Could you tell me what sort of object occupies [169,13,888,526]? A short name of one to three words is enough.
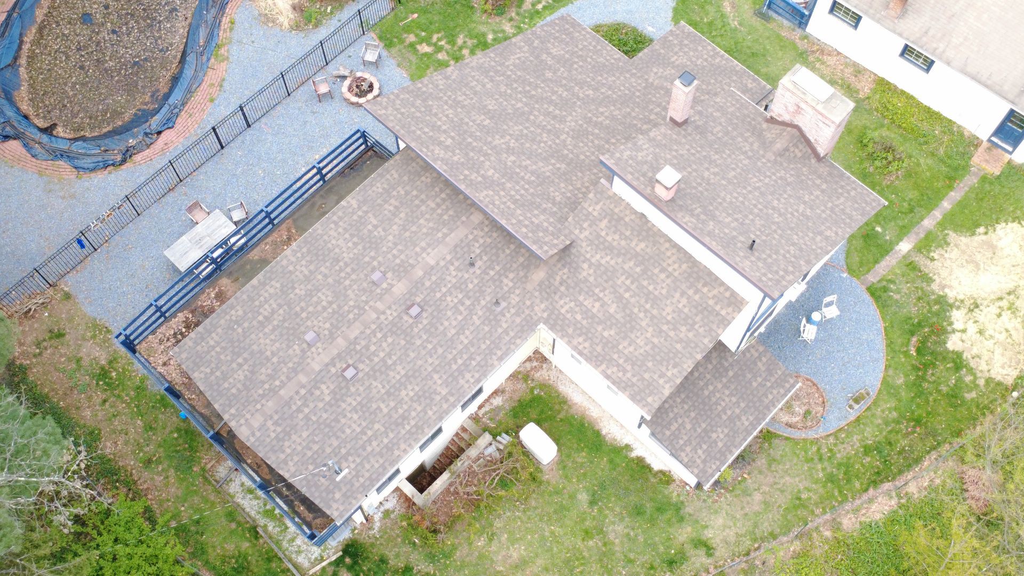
house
